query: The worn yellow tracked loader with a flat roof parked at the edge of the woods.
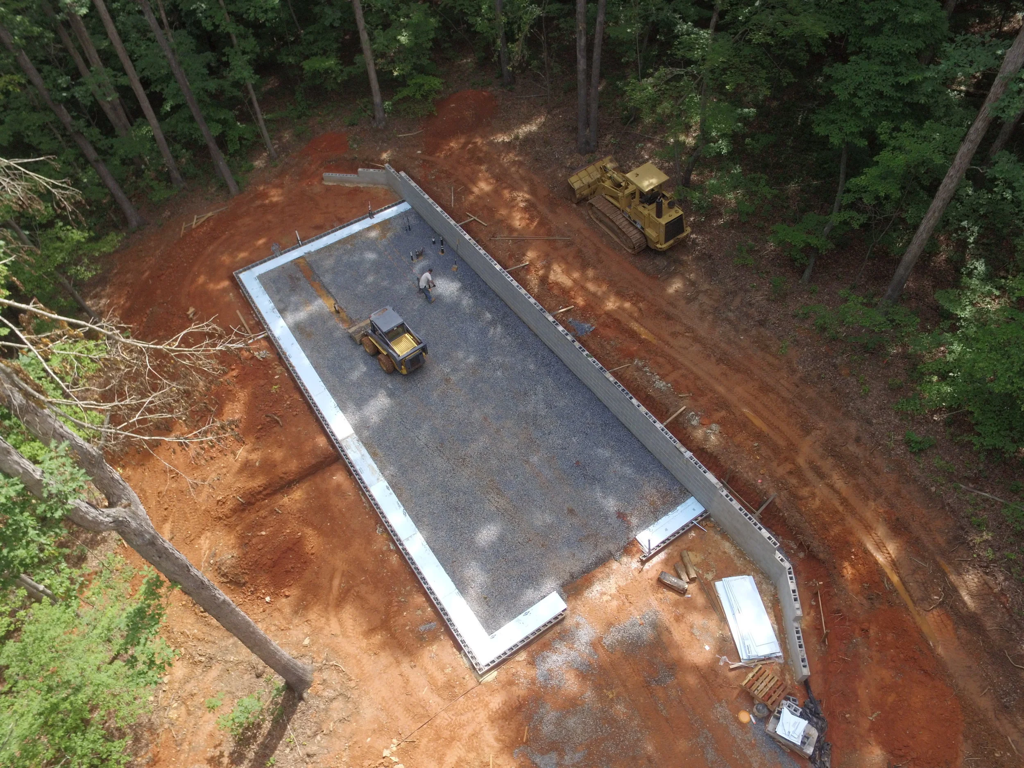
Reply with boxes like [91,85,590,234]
[559,154,688,254]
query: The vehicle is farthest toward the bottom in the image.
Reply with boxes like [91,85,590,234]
[346,306,423,377]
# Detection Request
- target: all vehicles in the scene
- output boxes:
[559,154,688,254]
[346,306,423,377]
